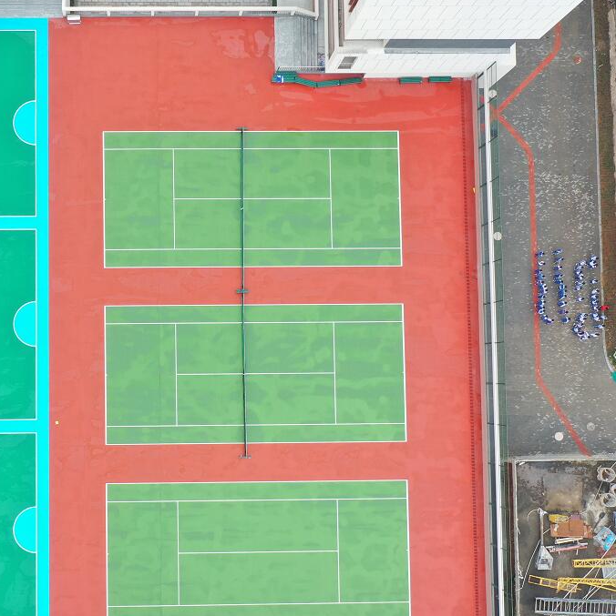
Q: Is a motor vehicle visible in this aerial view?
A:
No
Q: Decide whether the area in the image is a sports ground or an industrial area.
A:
sports ground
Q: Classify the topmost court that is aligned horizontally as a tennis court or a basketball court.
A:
tennis court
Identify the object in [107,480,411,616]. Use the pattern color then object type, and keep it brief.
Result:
green tennis court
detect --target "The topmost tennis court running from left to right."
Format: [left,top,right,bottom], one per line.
[103,129,403,268]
